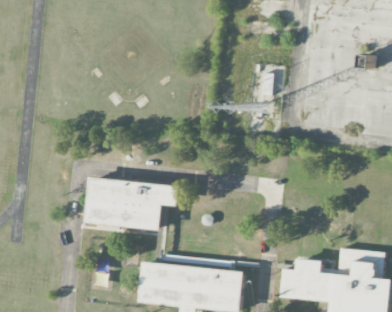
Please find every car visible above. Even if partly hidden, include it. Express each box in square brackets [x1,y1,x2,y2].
[61,232,68,244]
[146,161,158,166]
[72,201,78,213]
[261,241,266,252]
